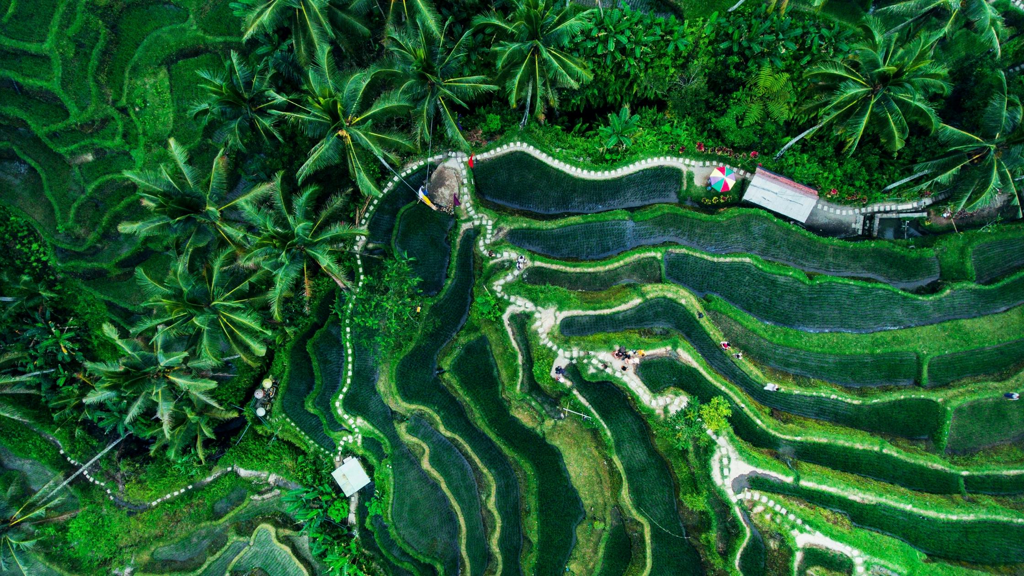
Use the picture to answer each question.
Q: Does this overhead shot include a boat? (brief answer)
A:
No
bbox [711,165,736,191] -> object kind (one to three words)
umbrella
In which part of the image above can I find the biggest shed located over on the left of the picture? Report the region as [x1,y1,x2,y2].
[331,455,371,497]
